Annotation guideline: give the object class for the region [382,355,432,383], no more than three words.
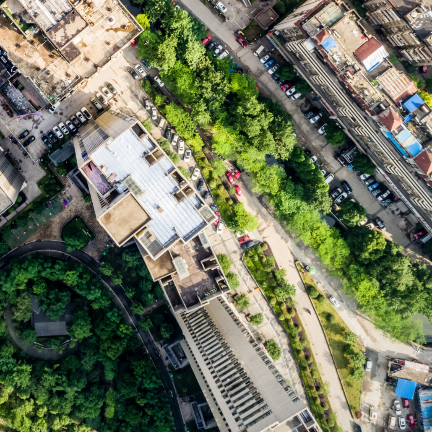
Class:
building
